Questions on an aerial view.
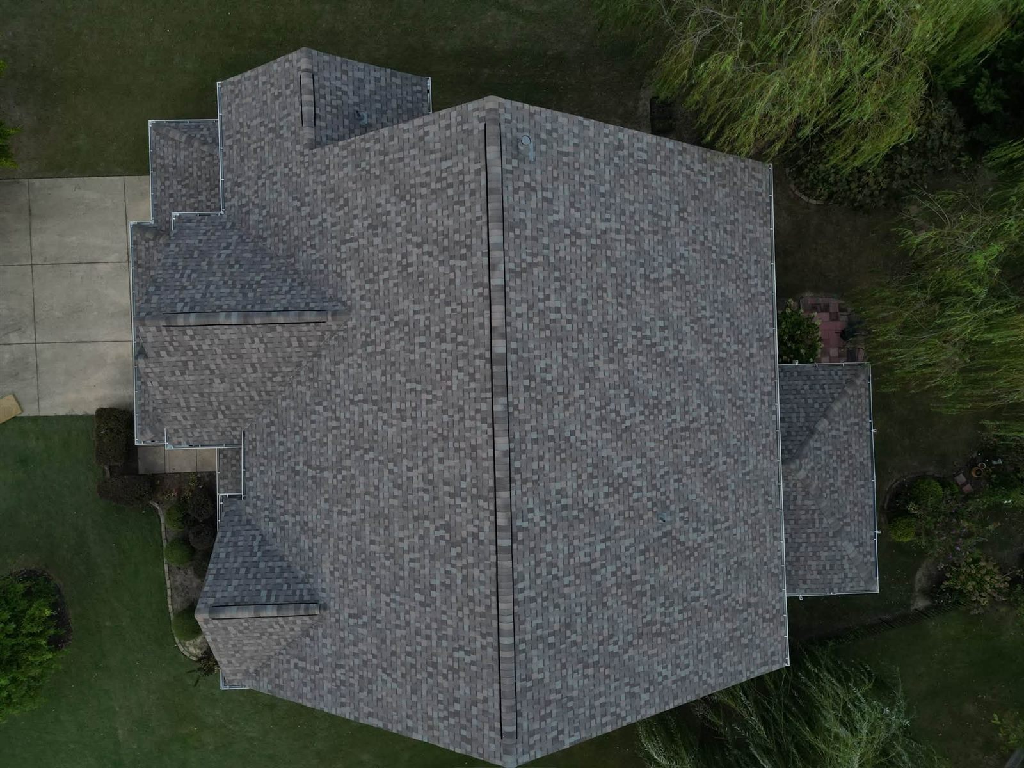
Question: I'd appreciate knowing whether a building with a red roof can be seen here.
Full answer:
No, there's no building with a red roof here.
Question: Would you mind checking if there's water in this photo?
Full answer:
No, the scene doesn't show any water.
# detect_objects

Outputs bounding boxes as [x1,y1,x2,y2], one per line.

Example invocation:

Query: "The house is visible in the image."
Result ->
[131,48,880,766]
